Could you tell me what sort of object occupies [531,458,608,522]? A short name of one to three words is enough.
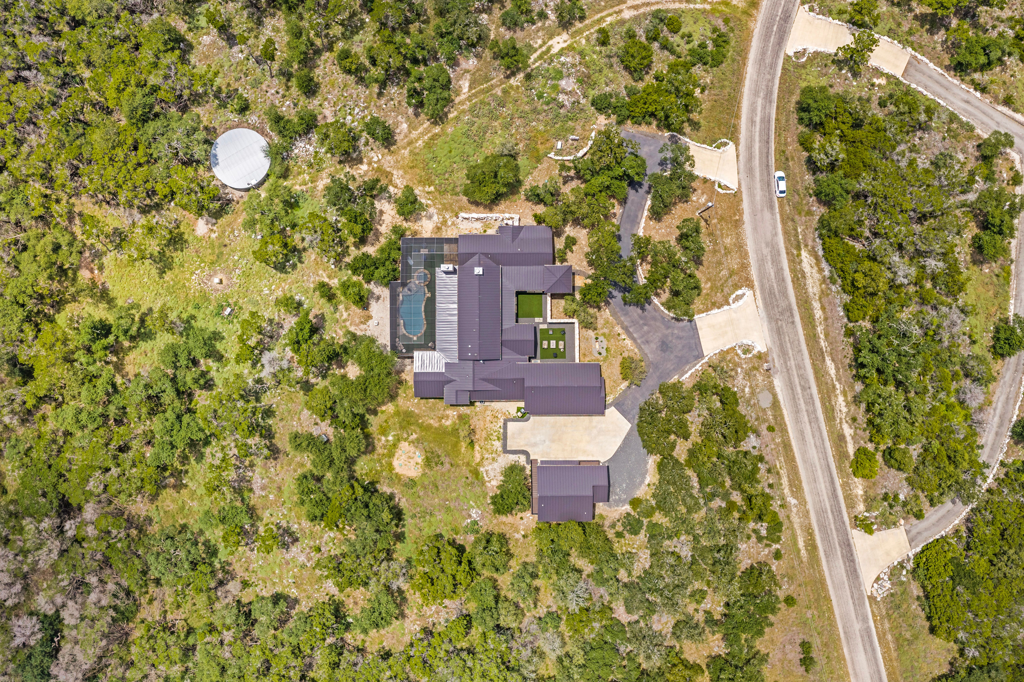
shed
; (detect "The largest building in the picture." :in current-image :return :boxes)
[413,225,605,415]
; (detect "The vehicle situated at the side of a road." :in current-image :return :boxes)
[773,171,787,198]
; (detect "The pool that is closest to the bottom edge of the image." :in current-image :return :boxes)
[399,283,428,337]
